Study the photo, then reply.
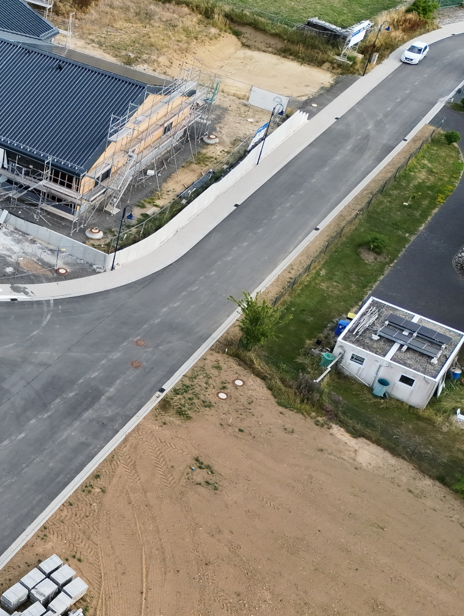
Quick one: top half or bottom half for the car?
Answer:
top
